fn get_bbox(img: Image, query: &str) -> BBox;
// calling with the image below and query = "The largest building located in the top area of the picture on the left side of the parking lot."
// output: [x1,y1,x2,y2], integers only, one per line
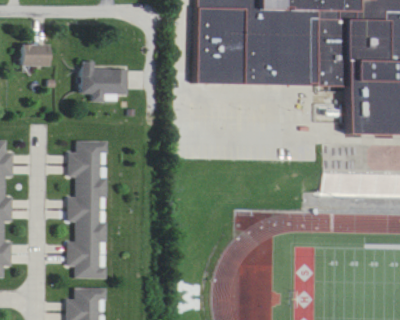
[80,61,128,104]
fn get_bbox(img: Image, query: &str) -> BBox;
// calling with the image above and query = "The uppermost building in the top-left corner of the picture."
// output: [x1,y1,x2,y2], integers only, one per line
[21,44,54,66]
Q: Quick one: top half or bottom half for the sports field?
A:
bottom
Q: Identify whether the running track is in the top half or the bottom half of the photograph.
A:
bottom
